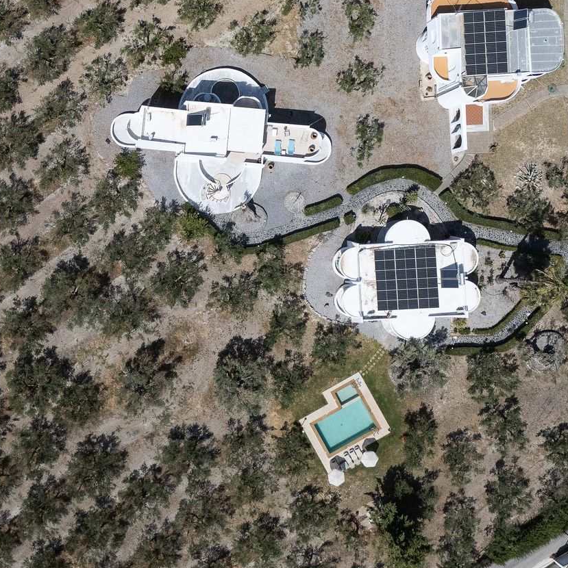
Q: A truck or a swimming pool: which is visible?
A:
swimming pool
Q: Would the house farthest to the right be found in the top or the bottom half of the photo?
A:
top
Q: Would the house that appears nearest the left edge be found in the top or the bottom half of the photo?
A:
top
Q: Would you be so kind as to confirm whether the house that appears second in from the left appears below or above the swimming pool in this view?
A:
above it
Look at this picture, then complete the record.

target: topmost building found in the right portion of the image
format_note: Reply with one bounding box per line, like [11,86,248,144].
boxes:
[414,0,564,154]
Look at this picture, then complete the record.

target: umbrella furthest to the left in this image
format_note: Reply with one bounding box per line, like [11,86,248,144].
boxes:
[327,469,344,486]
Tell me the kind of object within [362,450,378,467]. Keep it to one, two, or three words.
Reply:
umbrella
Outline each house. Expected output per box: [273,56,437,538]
[414,0,564,154]
[331,218,480,340]
[111,67,332,214]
